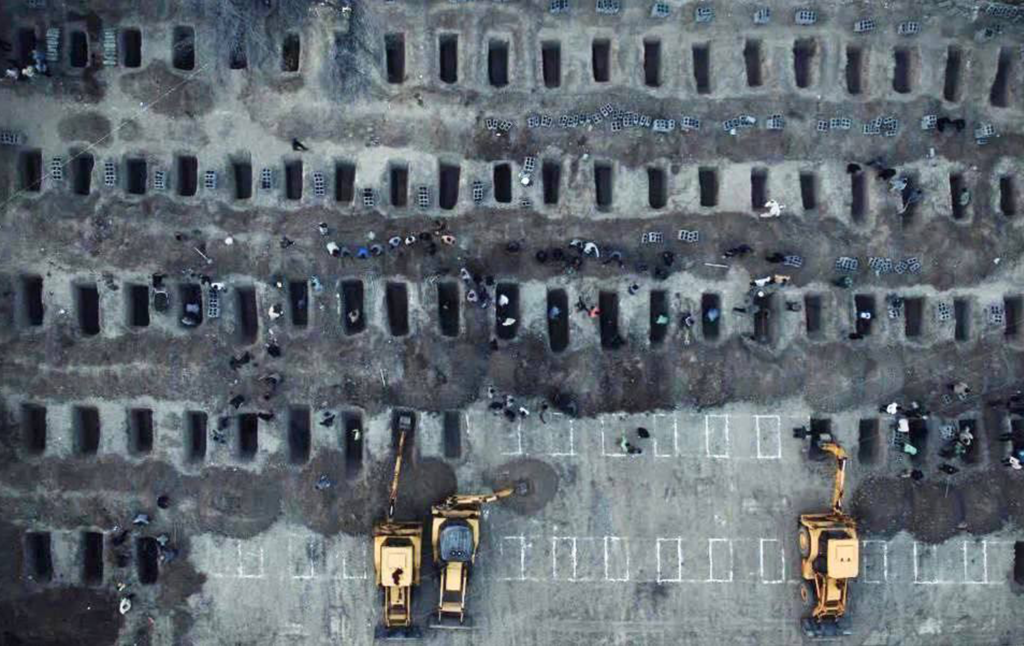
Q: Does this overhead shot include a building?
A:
No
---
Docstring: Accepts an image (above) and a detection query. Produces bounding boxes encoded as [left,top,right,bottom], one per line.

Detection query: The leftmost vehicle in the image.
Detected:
[374,413,427,640]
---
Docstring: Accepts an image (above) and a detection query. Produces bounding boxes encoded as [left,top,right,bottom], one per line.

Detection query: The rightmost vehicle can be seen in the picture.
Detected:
[801,430,860,642]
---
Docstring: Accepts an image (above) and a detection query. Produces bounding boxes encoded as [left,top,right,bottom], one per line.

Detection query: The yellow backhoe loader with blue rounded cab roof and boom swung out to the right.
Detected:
[430,479,532,625]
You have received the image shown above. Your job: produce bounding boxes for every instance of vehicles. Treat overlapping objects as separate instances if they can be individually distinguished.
[430,479,532,625]
[801,430,860,642]
[374,413,427,640]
